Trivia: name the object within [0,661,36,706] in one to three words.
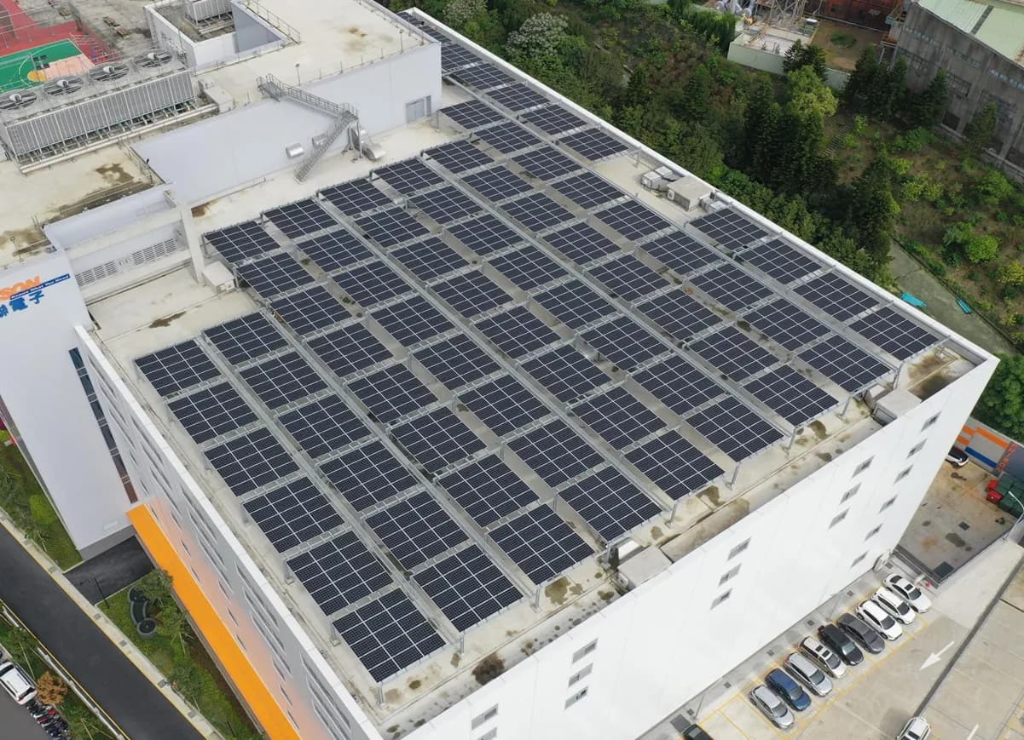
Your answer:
car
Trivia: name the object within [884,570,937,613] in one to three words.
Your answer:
car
